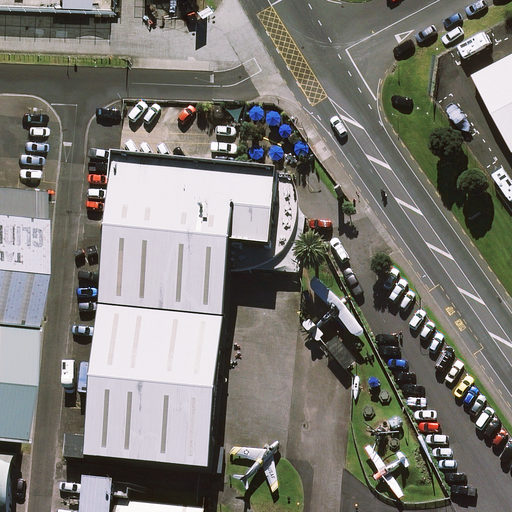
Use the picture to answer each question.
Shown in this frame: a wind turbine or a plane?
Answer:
plane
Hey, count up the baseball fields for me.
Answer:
zero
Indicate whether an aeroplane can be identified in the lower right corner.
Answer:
Yes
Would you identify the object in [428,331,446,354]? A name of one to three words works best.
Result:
vehicle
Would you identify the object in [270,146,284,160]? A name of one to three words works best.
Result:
umbrella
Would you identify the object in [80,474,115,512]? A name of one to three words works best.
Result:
building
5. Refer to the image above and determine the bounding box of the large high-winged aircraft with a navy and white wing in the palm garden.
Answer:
[303,277,363,340]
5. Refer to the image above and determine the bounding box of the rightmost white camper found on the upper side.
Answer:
[491,171,512,208]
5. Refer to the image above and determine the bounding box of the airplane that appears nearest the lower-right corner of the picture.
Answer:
[365,445,409,498]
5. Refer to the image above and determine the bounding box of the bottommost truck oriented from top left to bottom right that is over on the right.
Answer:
[342,268,364,295]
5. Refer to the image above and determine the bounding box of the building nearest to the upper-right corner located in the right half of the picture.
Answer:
[471,54,512,150]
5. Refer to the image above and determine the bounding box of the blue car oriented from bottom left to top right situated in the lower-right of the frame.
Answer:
[464,384,481,405]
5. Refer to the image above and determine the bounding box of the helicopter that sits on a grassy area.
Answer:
[365,417,401,450]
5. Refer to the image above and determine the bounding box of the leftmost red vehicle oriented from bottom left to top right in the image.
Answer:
[177,104,196,124]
